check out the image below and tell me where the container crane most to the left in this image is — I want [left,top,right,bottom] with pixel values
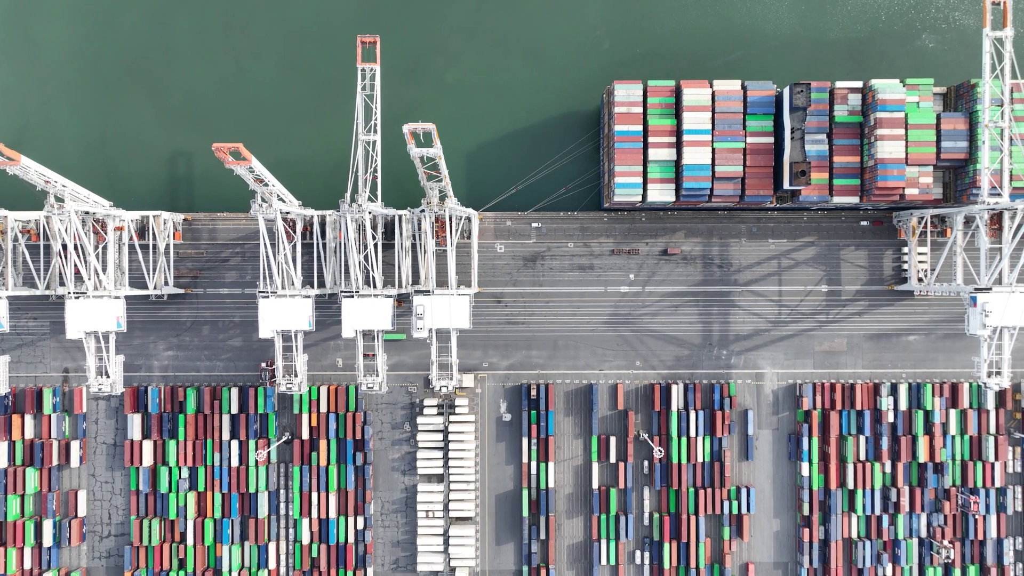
[0,200,84,391]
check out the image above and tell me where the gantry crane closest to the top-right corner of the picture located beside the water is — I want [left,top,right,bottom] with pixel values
[884,0,1024,390]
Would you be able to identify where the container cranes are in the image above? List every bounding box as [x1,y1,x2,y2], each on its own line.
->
[210,136,349,389]
[884,0,1024,390]
[336,33,419,389]
[406,120,484,388]
[0,200,84,391]
[0,139,186,390]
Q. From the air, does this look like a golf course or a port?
port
